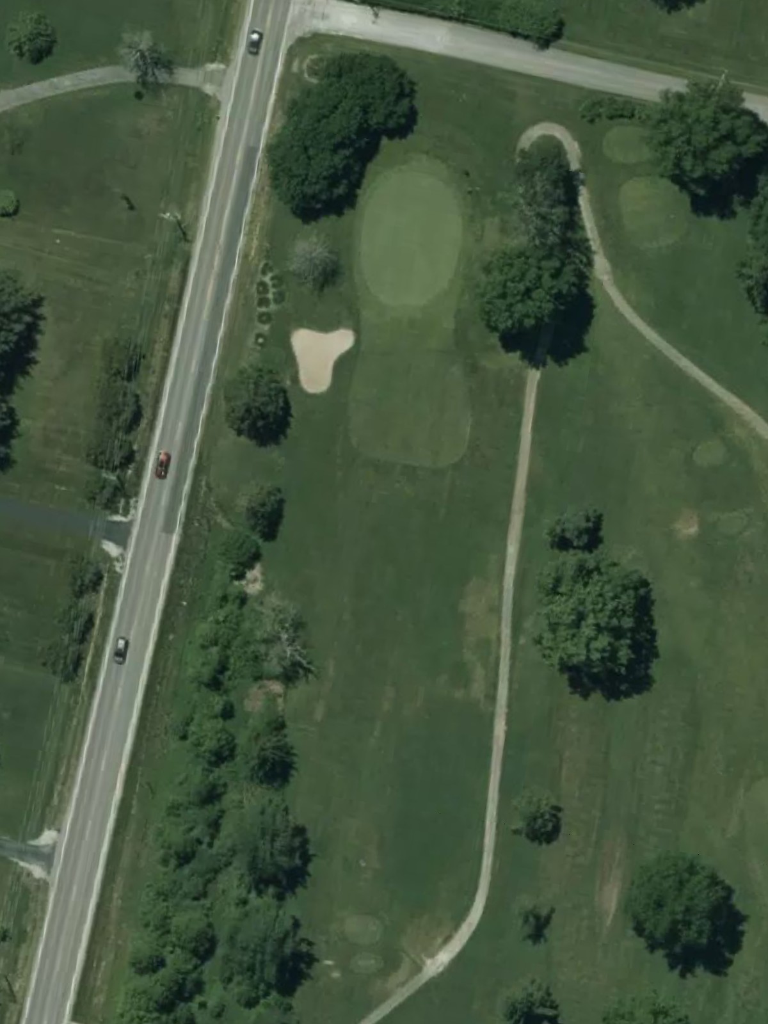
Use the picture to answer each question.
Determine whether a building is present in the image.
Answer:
No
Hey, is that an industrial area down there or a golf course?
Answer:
golf course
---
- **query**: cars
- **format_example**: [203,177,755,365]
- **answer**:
[248,28,261,55]
[156,453,170,479]
[113,638,127,664]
